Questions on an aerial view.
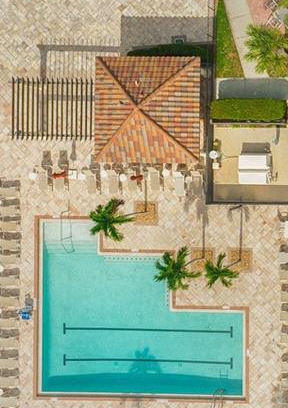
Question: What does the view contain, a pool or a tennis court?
pool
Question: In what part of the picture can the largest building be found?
top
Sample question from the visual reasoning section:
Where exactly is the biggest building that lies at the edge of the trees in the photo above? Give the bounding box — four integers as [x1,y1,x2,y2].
[92,56,211,165]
